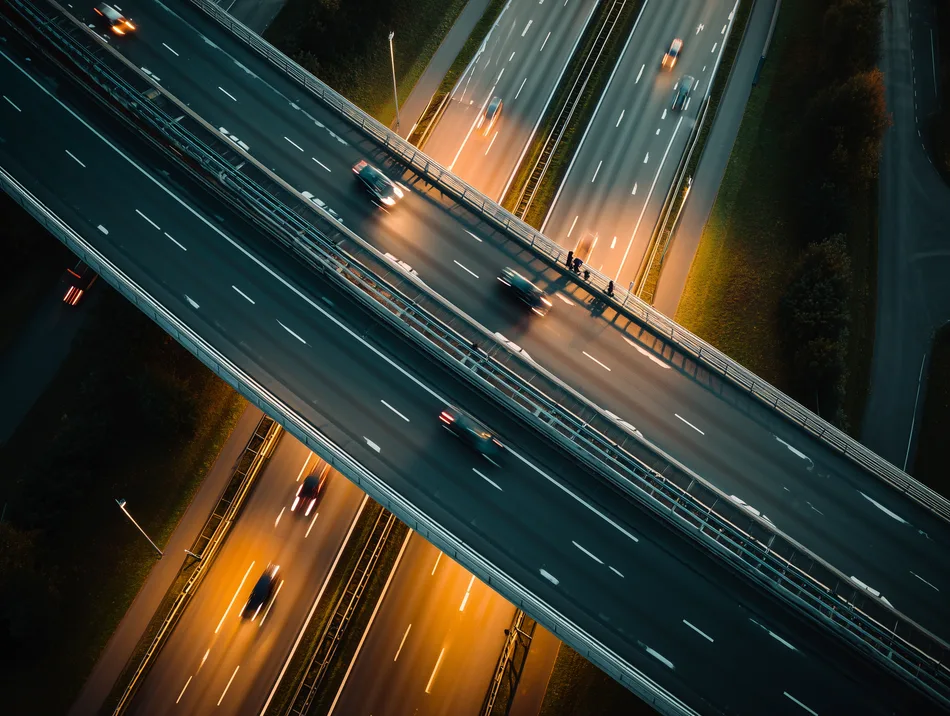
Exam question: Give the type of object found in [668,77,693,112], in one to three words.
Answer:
car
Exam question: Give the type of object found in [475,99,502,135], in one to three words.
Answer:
car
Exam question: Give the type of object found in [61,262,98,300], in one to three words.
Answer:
truck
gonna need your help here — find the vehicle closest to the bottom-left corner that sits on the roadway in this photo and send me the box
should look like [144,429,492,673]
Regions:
[239,567,279,621]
